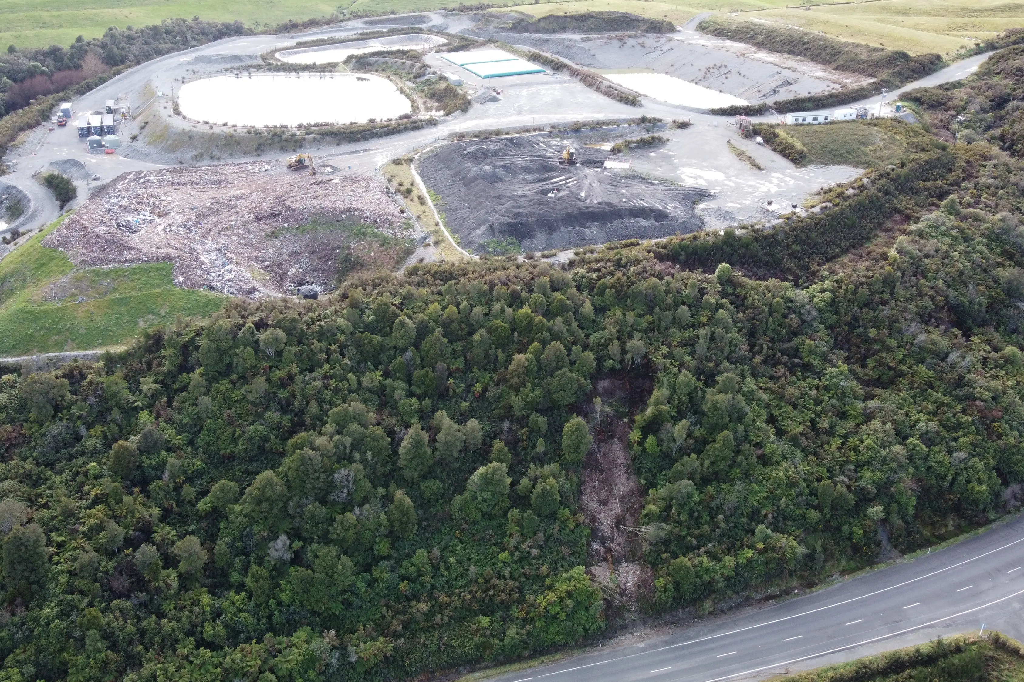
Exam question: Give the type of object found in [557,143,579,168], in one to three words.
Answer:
work vehicle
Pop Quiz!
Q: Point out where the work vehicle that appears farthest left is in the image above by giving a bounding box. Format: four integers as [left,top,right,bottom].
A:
[54,110,68,127]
